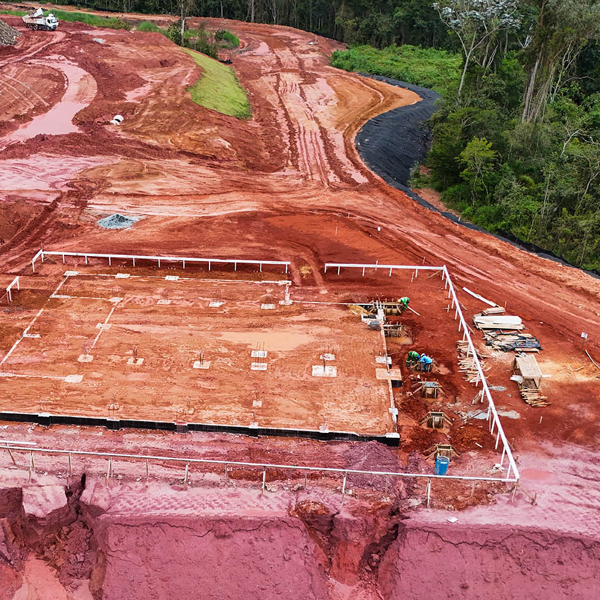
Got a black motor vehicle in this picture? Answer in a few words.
No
